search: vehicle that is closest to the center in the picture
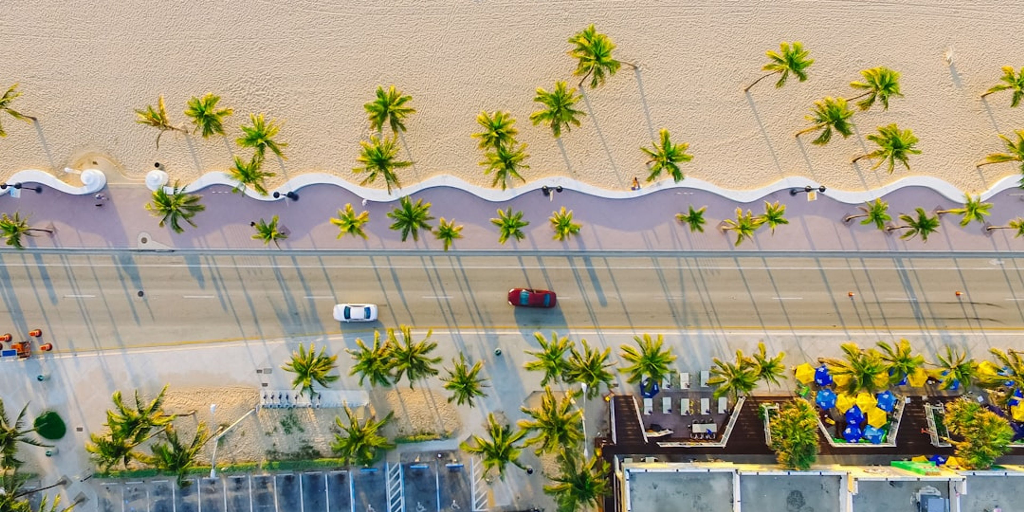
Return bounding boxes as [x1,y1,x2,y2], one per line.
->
[508,288,557,310]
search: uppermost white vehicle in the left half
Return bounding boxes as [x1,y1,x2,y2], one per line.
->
[332,303,377,324]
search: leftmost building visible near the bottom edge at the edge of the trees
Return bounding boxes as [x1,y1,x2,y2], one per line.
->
[615,463,737,512]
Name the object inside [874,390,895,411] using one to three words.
umbrella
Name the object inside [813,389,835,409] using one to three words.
umbrella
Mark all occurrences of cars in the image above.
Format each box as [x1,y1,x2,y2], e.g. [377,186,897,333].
[332,303,377,324]
[508,288,557,310]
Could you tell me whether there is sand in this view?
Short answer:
Yes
